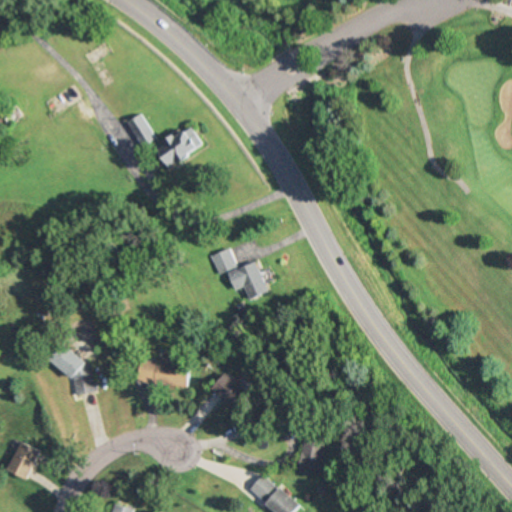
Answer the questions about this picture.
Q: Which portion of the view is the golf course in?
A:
top right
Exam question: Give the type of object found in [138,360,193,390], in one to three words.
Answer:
house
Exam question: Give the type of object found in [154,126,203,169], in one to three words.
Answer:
house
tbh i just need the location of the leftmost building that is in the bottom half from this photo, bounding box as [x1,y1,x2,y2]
[7,444,41,480]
